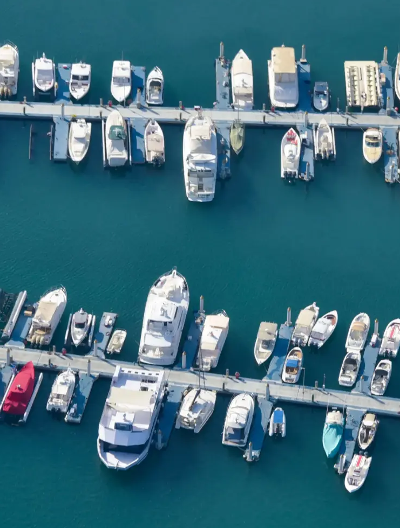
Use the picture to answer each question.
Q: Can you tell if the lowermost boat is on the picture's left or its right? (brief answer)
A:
right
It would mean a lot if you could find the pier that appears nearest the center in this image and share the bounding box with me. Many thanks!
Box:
[180,313,205,369]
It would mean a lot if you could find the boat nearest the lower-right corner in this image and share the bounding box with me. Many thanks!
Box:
[345,450,374,496]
